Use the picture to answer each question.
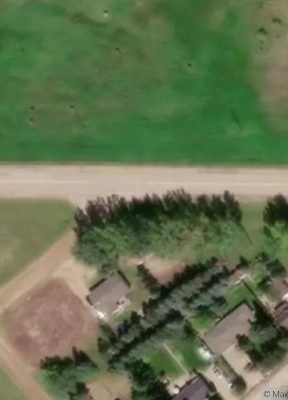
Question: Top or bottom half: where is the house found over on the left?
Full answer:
The house found over on the left sits in the bottom half of the picture.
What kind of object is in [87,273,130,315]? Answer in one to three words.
house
